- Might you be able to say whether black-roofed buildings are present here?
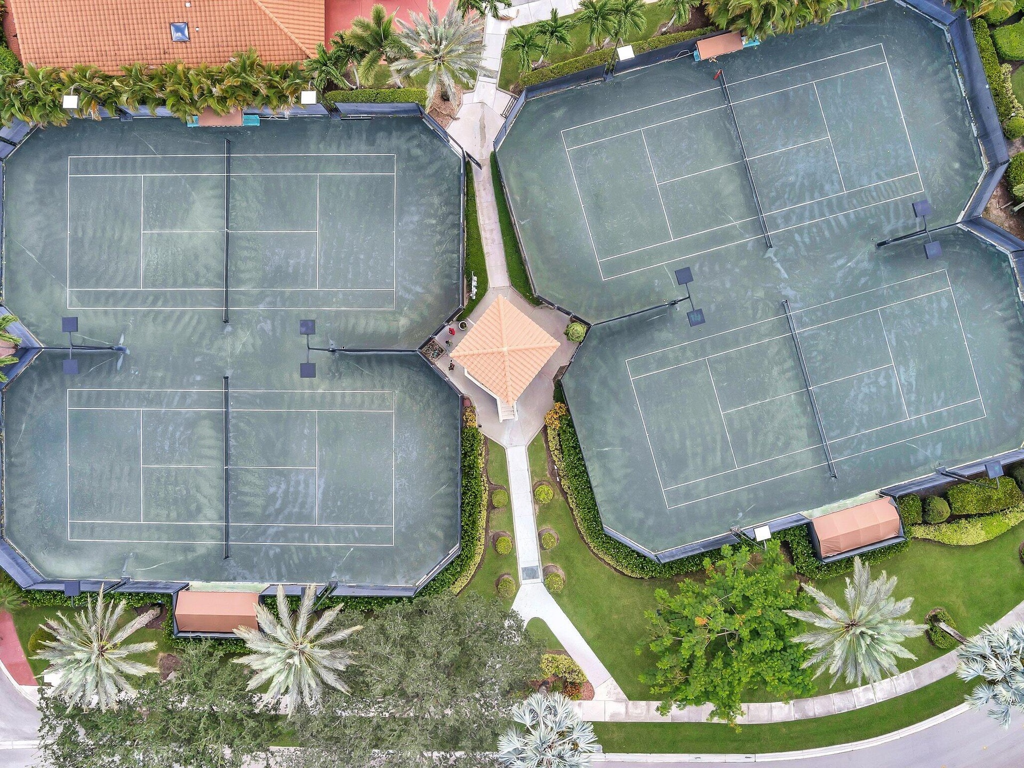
No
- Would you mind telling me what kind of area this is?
sports ground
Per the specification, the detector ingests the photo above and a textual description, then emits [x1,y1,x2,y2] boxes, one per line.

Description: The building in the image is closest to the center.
[450,294,560,423]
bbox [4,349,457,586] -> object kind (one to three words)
tennis court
